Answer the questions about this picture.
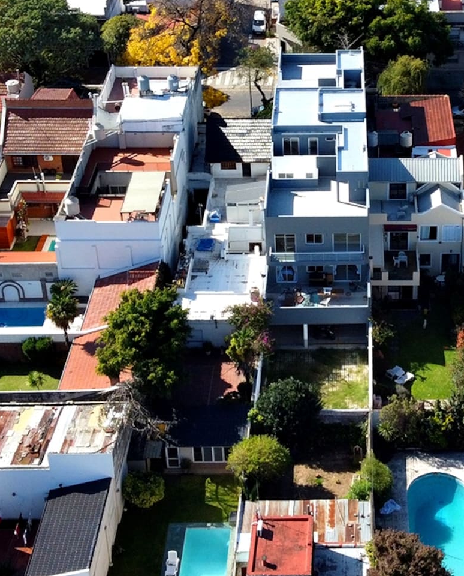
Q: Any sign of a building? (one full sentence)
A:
Yes, I can see a building in this picture.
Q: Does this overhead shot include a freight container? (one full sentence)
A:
No, the photo shows no freight container.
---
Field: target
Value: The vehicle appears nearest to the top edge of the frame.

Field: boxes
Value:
[249,9,267,33]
